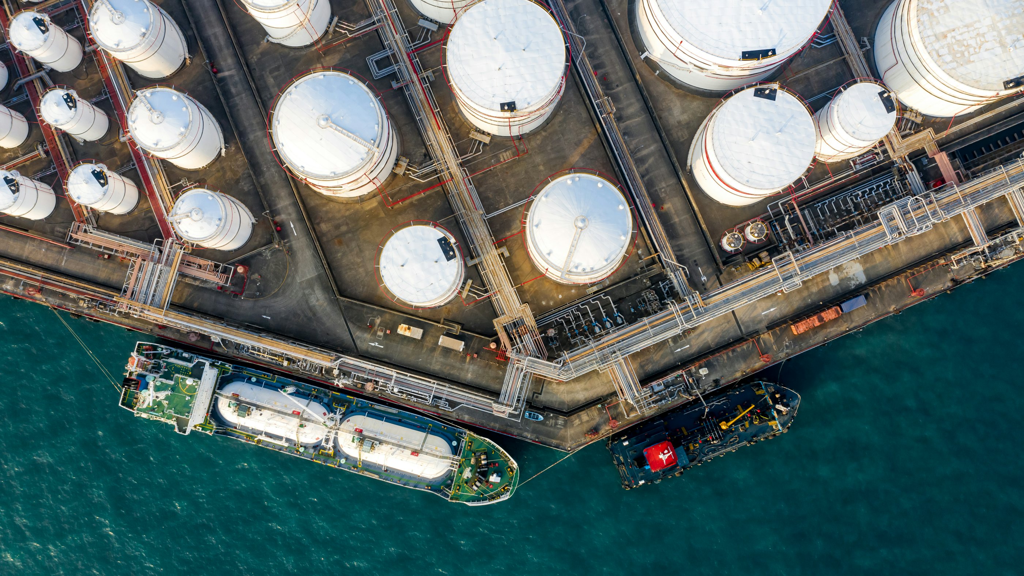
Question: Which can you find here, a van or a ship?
ship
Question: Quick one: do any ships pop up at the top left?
No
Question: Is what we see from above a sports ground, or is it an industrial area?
industrial area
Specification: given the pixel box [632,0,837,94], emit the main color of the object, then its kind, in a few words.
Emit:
white storage tank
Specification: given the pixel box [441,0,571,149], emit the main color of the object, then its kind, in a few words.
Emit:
white storage tank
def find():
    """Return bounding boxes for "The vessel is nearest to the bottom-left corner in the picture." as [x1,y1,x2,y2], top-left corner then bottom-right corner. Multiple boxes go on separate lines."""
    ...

[116,341,520,506]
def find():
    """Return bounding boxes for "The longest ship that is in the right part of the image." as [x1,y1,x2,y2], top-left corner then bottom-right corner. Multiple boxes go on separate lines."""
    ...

[605,381,802,491]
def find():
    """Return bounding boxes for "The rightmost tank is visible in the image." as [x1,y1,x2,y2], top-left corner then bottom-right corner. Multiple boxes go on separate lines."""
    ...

[869,0,1024,133]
